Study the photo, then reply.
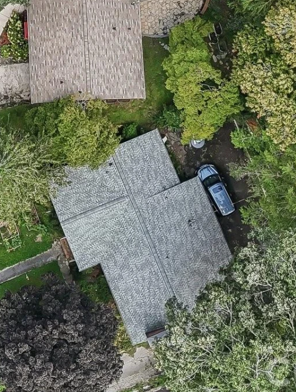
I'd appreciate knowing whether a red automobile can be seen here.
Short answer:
No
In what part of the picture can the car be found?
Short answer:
right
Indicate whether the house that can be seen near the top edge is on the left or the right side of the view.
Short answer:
left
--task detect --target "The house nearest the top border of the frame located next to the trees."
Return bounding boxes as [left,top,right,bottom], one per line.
[27,0,146,105]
